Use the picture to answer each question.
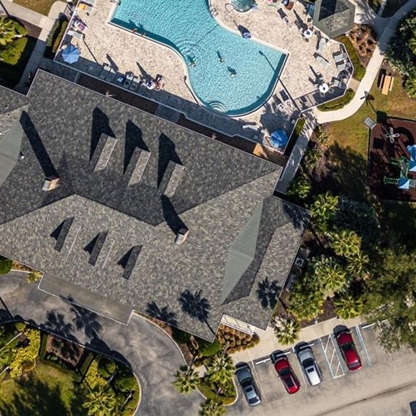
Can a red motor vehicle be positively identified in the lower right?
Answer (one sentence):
Yes, a red motor vehicle shows up in the lower right.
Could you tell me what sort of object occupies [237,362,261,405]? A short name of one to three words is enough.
car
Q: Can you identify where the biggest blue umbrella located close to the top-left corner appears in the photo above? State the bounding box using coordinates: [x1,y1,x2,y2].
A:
[62,43,82,64]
